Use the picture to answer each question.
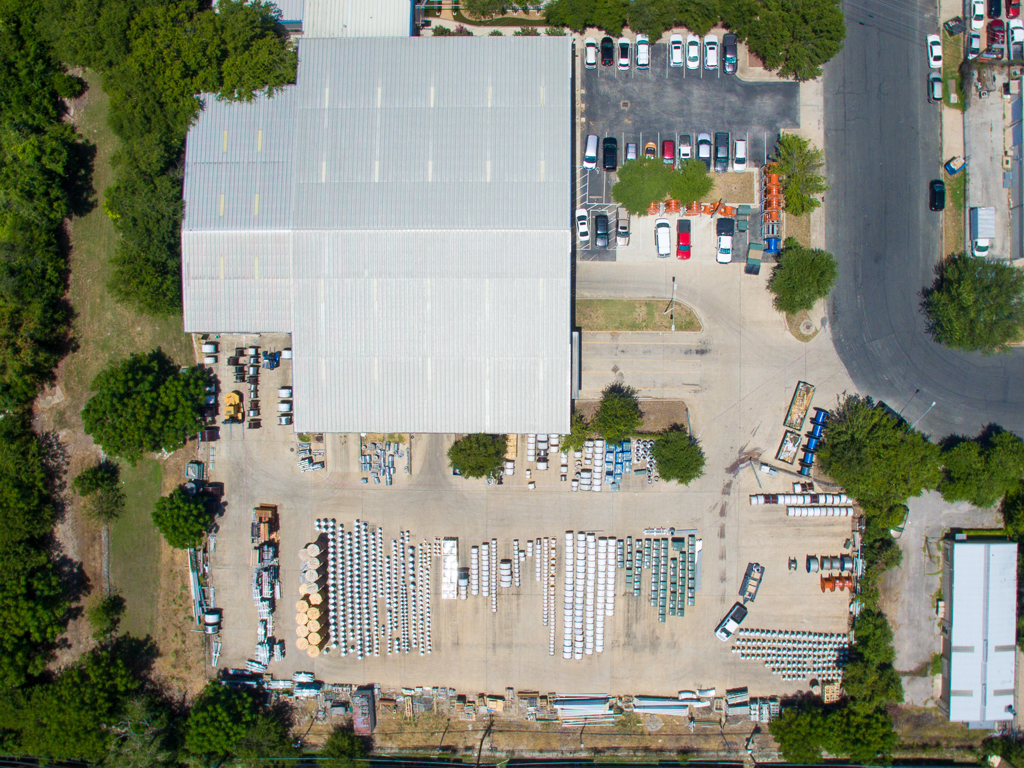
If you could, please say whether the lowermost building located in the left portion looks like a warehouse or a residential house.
warehouse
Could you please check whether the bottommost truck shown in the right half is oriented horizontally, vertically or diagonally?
diagonally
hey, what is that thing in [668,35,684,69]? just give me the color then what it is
white car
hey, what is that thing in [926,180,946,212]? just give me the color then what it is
black car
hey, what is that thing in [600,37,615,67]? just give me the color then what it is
black car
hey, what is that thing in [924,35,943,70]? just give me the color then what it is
white car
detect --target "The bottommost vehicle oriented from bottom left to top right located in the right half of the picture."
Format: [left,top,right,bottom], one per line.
[714,599,750,640]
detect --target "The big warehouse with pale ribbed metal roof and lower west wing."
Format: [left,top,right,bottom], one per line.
[182,36,580,434]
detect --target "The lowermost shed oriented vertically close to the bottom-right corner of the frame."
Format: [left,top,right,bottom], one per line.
[938,540,1018,721]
